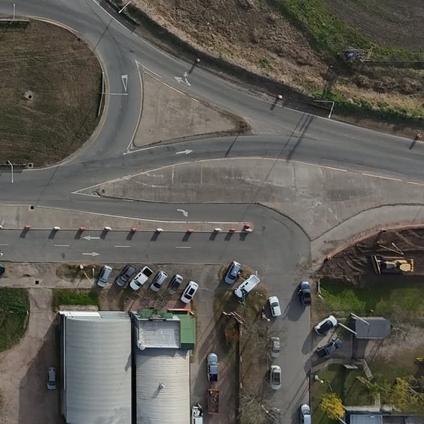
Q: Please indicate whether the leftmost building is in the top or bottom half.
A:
bottom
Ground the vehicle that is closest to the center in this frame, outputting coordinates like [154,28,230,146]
[225,260,243,285]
